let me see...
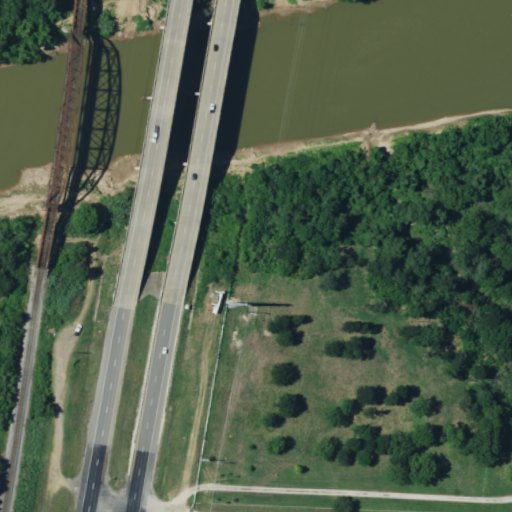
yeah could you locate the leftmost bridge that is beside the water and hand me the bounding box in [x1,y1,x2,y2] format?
[36,0,88,280]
